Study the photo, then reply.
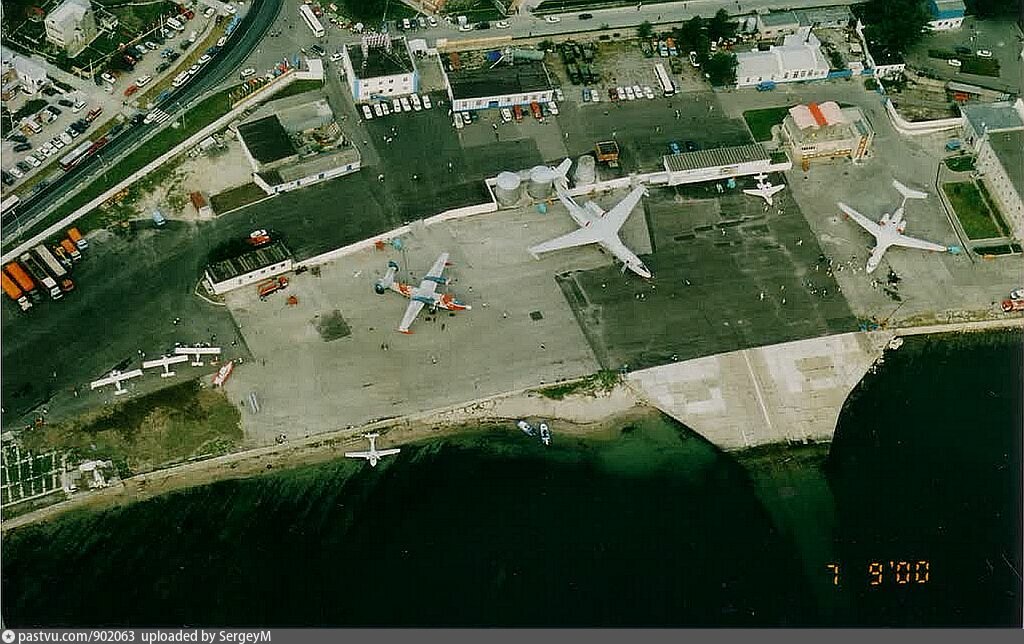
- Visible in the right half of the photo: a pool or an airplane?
airplane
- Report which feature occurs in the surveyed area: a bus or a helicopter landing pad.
bus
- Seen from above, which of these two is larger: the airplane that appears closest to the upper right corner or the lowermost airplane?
the airplane that appears closest to the upper right corner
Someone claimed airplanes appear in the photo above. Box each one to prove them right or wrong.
[91,368,140,393]
[743,169,784,204]
[142,353,188,377]
[174,342,221,365]
[373,251,471,333]
[528,155,653,282]
[838,178,946,272]
[345,434,400,470]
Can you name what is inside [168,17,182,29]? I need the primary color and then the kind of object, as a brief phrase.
white vehicle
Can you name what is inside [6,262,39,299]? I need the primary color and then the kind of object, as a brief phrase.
orange truck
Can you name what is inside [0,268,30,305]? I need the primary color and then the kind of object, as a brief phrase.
orange truck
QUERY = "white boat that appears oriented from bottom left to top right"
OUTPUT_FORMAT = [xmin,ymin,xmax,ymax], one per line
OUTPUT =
[213,360,231,386]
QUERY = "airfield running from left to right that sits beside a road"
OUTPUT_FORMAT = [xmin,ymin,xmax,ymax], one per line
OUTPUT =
[0,47,1024,444]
